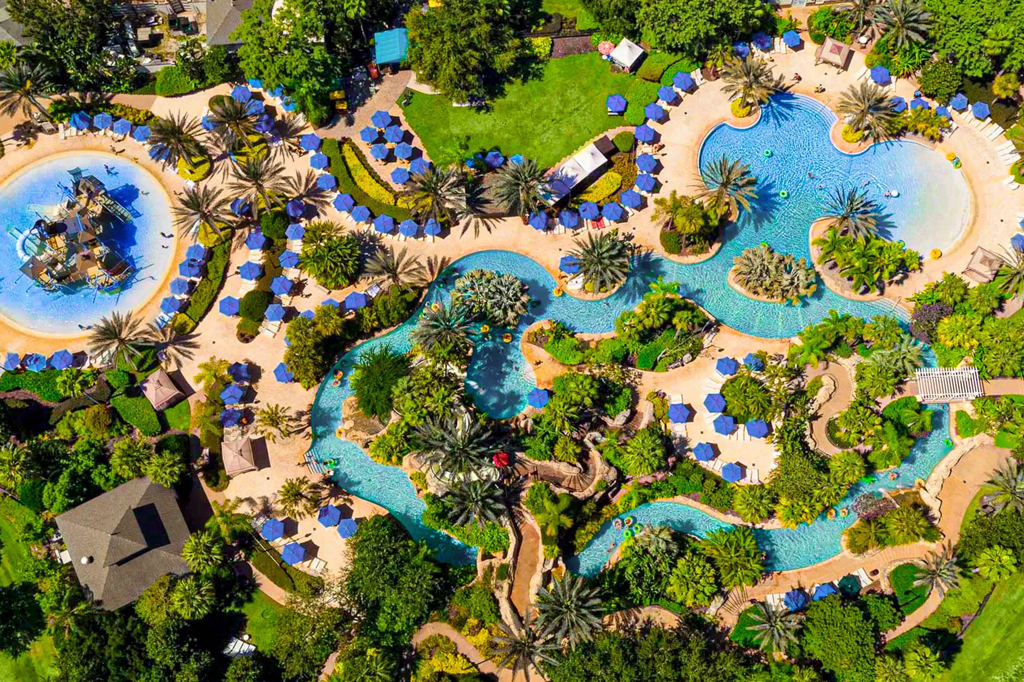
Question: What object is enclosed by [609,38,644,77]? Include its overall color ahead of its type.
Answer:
white tent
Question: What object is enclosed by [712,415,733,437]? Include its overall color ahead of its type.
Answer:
blue umbrella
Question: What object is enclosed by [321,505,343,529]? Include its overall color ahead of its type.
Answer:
blue umbrella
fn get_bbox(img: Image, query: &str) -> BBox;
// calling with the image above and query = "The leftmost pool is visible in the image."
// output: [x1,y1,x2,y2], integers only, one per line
[0,150,179,337]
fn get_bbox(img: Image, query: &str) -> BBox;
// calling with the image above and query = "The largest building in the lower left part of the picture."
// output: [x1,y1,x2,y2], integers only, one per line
[59,473,191,615]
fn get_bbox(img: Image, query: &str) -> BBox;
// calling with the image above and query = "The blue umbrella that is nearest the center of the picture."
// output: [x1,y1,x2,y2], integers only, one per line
[527,387,548,408]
